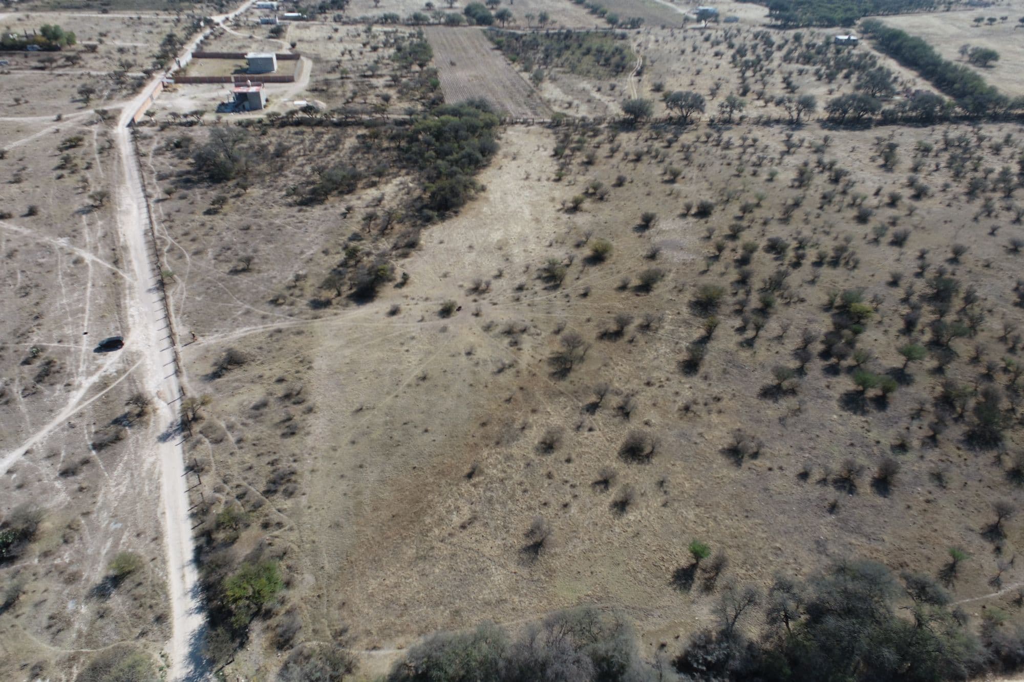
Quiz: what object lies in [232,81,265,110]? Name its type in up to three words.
house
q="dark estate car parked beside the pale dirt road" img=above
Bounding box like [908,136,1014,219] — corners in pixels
[95,334,127,351]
